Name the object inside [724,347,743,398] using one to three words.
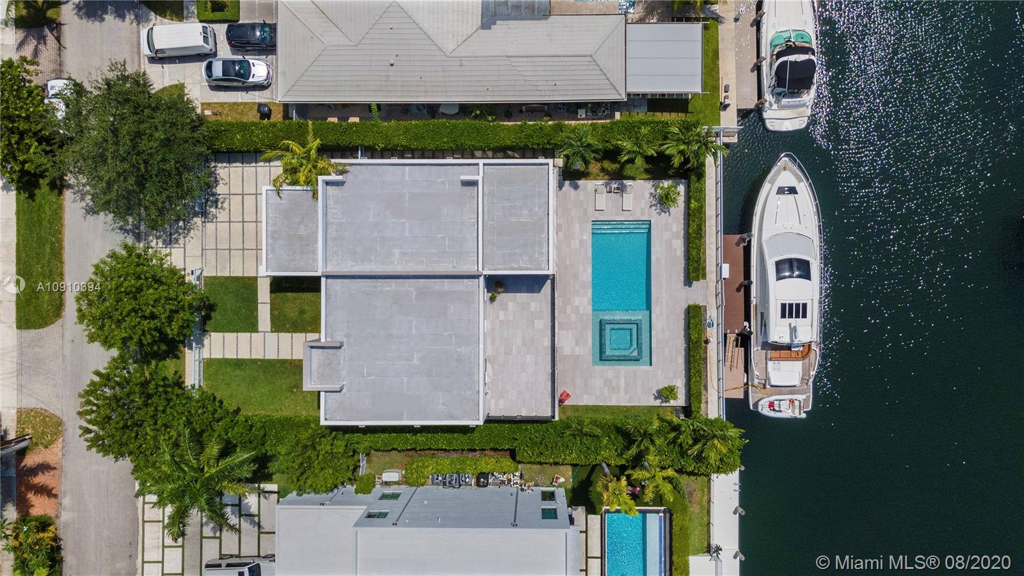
pier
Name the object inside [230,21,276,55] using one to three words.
car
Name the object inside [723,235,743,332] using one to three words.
pier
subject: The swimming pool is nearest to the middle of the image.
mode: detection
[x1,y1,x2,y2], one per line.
[591,221,651,366]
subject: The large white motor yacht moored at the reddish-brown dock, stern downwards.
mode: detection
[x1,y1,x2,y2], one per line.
[748,151,823,410]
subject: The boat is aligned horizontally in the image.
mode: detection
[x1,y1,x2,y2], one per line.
[758,395,809,420]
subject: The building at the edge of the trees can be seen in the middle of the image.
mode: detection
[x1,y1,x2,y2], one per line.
[259,157,558,428]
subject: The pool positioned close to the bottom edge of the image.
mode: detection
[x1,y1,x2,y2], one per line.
[600,505,676,576]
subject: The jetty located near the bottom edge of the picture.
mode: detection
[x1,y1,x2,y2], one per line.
[712,471,739,576]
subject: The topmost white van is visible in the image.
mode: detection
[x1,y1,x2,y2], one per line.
[144,22,220,60]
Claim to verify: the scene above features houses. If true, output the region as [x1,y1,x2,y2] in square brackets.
[276,485,579,576]
[276,0,627,106]
[259,157,558,428]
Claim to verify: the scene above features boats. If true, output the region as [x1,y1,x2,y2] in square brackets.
[758,395,809,420]
[748,151,823,410]
[757,0,817,130]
